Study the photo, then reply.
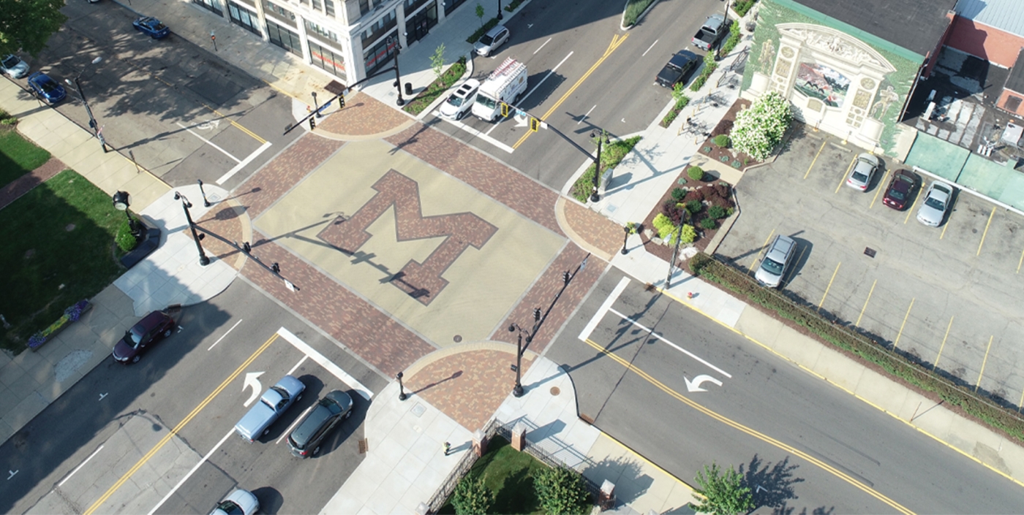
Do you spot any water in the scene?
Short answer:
No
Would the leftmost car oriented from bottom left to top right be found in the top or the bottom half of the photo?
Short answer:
bottom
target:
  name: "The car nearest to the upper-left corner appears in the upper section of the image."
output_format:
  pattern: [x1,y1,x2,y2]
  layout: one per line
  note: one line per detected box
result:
[0,53,32,82]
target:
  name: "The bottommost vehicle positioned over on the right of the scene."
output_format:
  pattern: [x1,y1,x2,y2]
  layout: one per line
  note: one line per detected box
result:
[755,233,797,287]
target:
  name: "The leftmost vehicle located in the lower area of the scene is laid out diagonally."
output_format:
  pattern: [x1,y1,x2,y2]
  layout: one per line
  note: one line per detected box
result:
[112,309,180,368]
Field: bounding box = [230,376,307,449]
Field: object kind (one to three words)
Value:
truck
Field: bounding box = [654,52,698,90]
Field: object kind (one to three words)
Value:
truck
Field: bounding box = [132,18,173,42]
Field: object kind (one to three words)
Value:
car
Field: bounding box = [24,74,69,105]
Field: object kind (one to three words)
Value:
car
